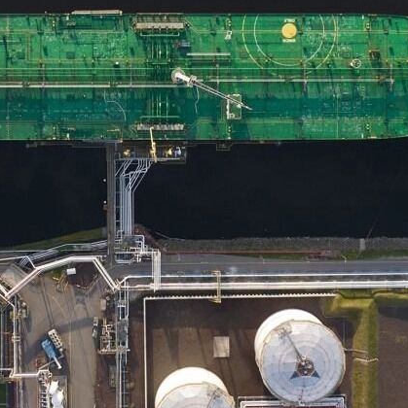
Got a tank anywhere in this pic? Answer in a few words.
Yes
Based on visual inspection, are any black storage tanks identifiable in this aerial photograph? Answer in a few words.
No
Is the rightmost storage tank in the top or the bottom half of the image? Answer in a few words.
bottom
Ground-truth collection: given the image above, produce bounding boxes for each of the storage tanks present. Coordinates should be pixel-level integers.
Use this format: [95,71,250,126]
[155,367,232,408]
[254,309,345,408]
